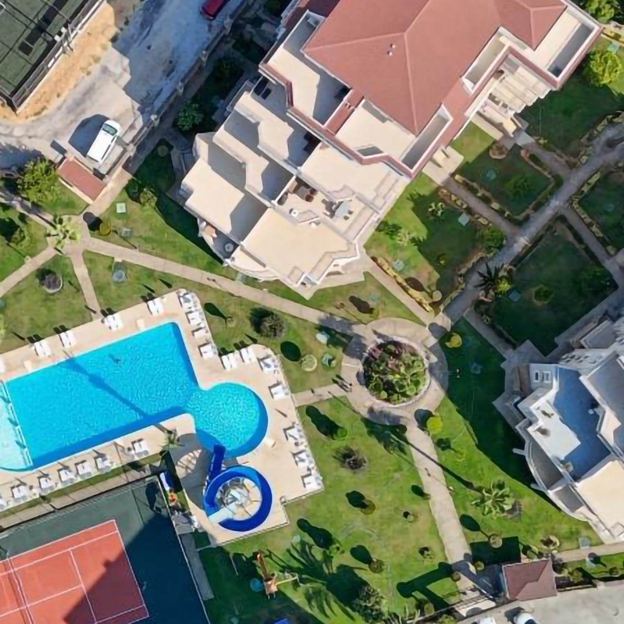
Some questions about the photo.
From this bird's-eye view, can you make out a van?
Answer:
Yes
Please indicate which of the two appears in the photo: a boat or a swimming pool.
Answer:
swimming pool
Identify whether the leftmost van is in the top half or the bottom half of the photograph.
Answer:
top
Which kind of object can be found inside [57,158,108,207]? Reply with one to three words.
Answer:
shed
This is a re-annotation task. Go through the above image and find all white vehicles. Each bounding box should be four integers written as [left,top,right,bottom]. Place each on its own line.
[512,608,538,624]
[478,614,498,624]
[85,118,120,164]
